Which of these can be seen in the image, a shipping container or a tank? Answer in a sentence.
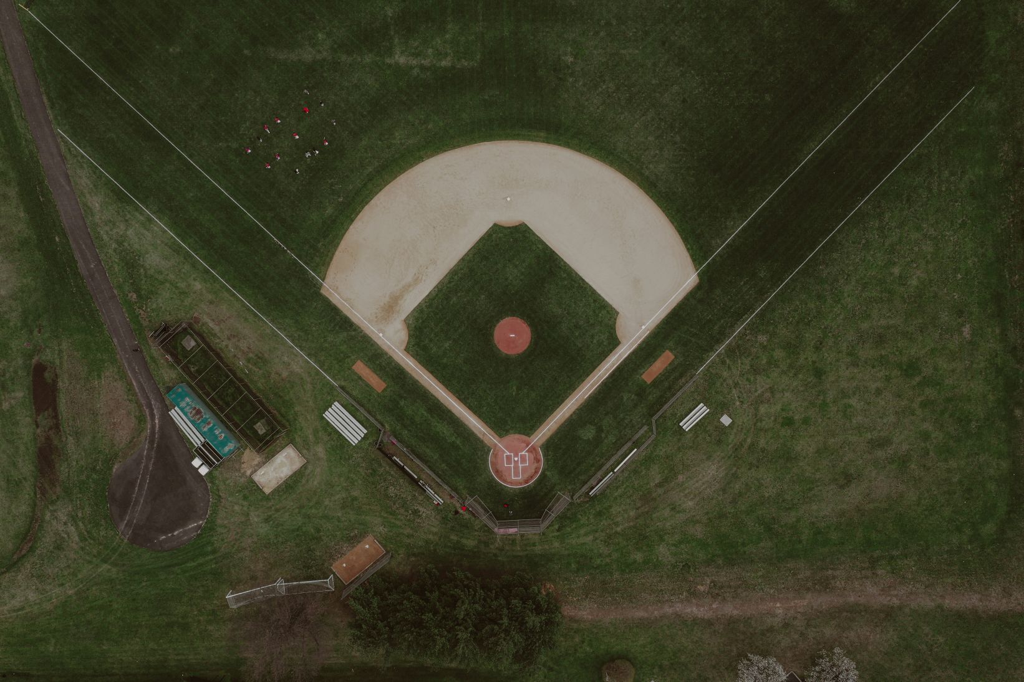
The one in the frame is a shipping container.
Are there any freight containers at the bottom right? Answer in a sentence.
No, no freight container is visible at the bottom right.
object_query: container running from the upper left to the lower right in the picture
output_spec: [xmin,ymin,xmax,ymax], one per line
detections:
[168,383,241,457]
